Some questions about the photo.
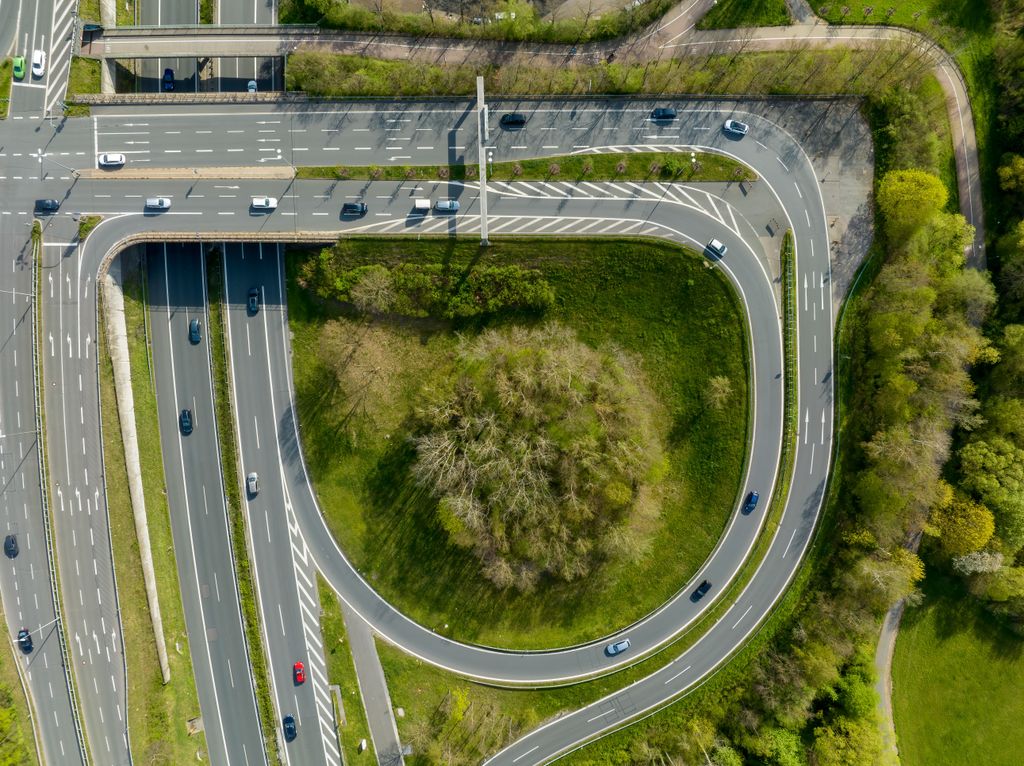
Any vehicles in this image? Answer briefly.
Yes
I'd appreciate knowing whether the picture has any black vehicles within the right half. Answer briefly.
Yes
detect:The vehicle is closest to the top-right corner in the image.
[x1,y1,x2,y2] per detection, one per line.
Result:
[725,120,748,135]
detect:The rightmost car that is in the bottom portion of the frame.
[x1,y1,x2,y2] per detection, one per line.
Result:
[743,491,760,514]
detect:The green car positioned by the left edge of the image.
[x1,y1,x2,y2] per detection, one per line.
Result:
[11,57,26,80]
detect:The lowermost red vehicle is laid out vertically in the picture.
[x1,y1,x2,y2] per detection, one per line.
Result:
[293,661,305,684]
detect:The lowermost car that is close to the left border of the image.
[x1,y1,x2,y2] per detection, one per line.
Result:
[18,630,33,652]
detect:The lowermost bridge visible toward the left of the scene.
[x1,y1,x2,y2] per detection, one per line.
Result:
[68,90,339,280]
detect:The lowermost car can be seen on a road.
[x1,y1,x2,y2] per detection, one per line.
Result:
[283,715,296,741]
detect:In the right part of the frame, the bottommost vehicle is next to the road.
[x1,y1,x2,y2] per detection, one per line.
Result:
[606,639,631,655]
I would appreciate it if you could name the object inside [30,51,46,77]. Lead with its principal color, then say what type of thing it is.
white car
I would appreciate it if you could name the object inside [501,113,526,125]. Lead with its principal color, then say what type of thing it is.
black vehicle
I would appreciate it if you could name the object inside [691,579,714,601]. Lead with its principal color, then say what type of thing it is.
black car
